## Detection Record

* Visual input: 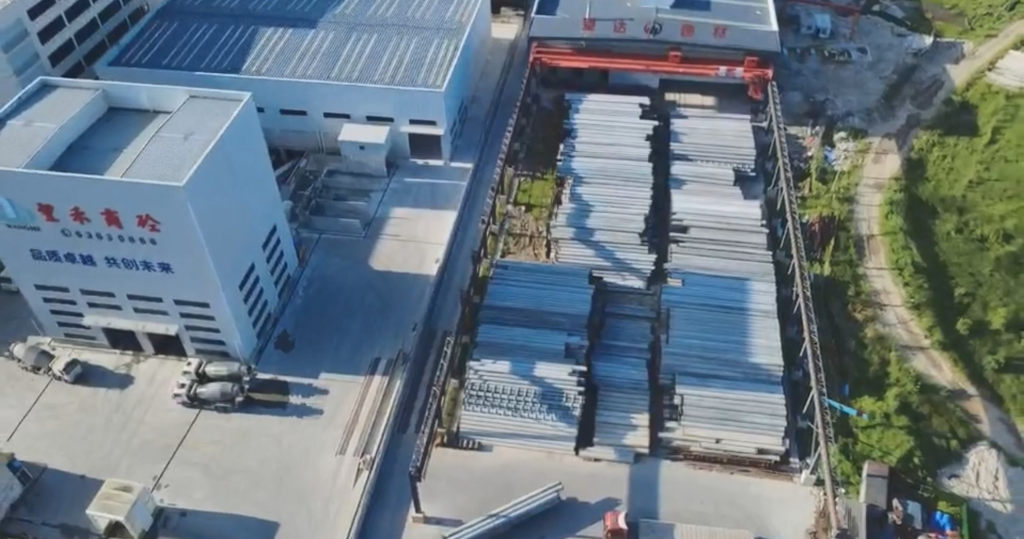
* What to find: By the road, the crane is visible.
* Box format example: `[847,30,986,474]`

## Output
[521,48,782,113]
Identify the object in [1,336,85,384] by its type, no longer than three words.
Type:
truck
